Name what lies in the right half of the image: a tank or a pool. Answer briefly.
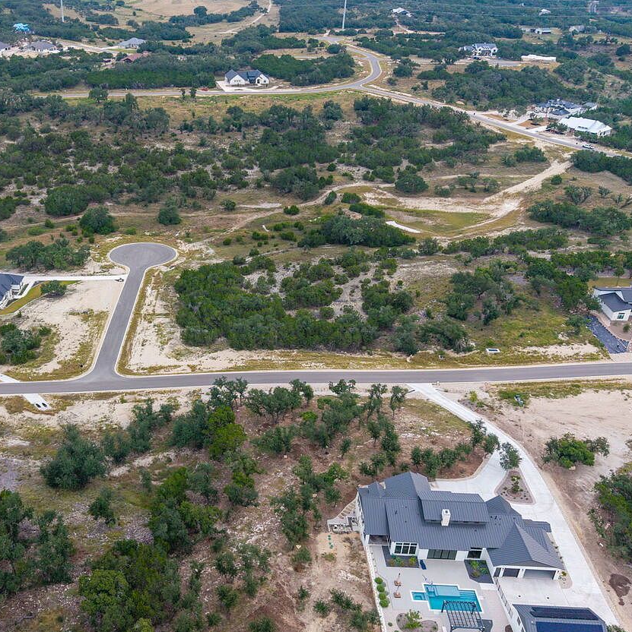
pool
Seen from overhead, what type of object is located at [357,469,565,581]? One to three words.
house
